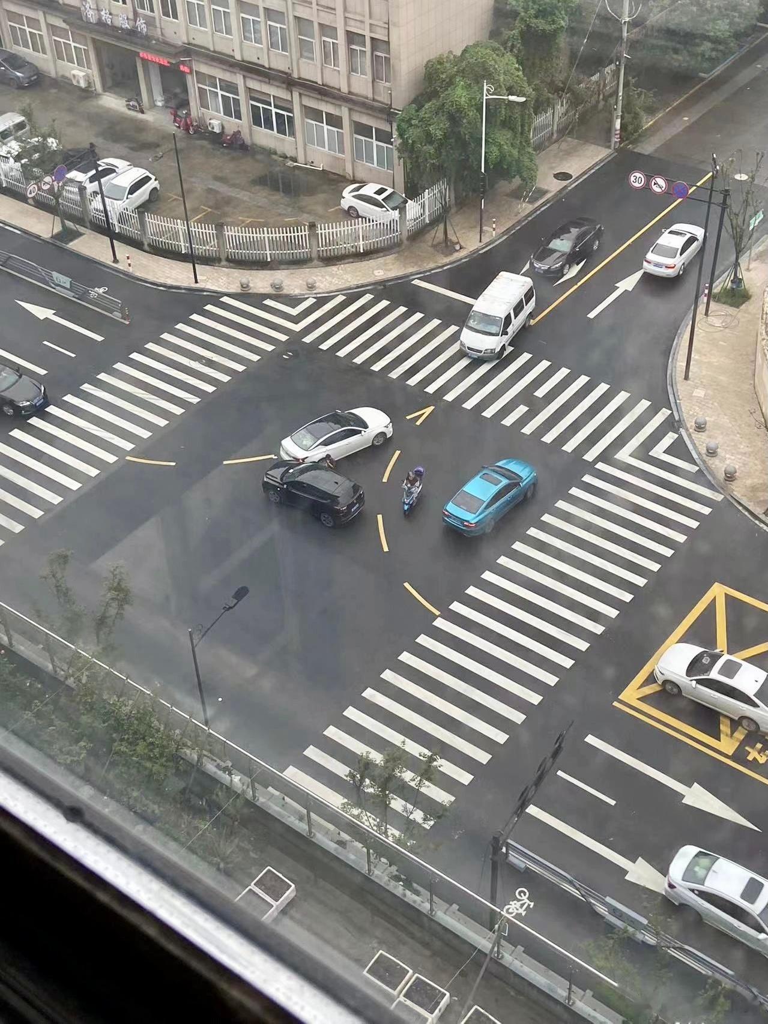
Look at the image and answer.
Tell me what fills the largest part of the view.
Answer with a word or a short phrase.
paved ground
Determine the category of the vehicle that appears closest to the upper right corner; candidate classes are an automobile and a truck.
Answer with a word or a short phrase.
automobile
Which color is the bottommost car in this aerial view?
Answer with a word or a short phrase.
white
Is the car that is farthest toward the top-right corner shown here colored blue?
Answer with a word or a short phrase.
No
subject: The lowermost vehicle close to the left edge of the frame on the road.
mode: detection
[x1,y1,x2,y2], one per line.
[0,358,48,415]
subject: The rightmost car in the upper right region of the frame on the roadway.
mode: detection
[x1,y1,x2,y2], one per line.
[645,224,704,276]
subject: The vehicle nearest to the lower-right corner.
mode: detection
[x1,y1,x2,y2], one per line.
[665,841,768,956]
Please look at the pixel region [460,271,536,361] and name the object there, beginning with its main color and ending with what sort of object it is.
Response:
white vehicle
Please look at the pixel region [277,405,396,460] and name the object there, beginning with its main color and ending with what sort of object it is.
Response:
white car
